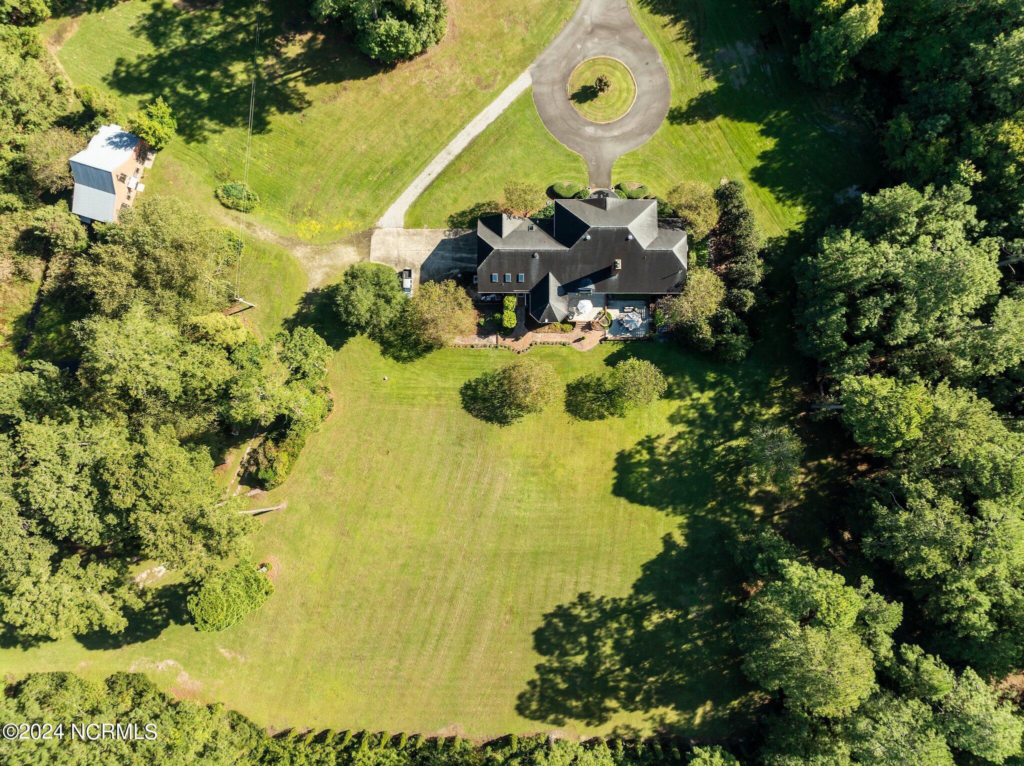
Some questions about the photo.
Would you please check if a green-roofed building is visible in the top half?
No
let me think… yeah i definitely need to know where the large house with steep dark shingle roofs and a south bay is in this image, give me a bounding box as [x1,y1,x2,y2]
[477,194,687,323]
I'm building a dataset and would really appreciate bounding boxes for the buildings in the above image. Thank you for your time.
[477,194,687,323]
[68,126,164,223]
